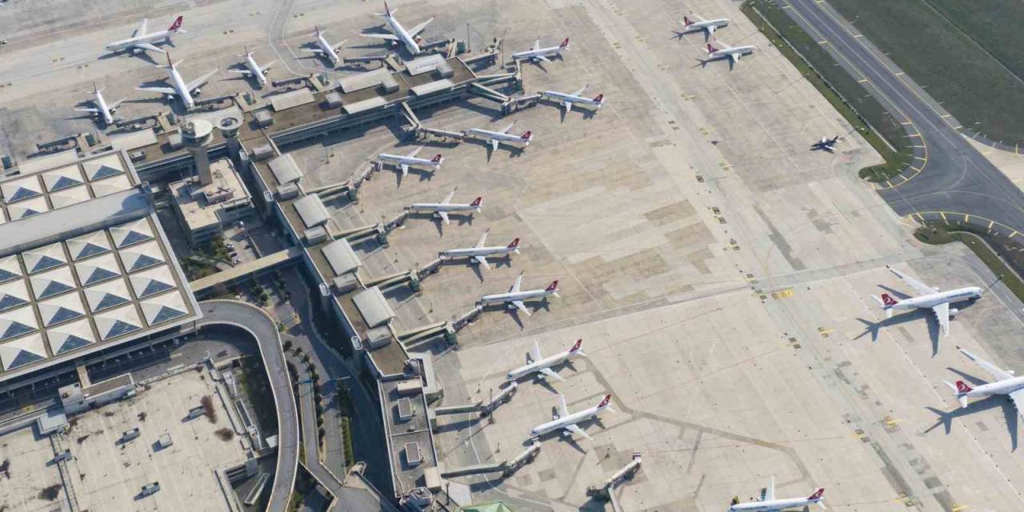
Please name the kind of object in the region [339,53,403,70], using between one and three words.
jet bridge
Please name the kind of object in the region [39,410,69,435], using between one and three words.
building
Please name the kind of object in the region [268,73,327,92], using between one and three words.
jet bridge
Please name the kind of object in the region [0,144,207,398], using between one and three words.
building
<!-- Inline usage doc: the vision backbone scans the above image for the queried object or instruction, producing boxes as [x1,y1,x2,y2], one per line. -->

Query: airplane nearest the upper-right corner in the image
[813,131,840,146]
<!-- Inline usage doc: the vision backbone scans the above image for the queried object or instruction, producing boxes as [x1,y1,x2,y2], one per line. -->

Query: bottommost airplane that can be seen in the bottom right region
[730,471,823,512]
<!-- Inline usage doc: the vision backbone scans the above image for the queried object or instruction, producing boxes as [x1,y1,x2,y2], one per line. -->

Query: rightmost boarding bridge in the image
[605,456,644,512]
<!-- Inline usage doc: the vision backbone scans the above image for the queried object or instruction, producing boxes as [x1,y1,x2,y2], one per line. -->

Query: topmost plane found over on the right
[682,12,730,34]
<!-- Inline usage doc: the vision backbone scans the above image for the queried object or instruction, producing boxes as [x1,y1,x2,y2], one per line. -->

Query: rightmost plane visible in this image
[947,343,1024,417]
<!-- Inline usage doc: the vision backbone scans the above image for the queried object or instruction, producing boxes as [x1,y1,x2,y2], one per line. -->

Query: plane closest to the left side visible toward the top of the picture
[78,84,127,124]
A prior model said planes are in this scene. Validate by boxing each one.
[508,336,584,382]
[482,271,559,314]
[545,84,604,110]
[441,231,514,270]
[878,263,984,333]
[813,131,840,146]
[363,6,434,56]
[233,50,278,86]
[513,37,570,62]
[730,471,823,512]
[682,12,730,34]
[531,390,614,442]
[78,84,127,124]
[305,30,348,65]
[707,39,756,63]
[379,143,442,174]
[947,343,1024,417]
[469,122,530,150]
[135,56,216,112]
[411,186,480,222]
[106,14,189,53]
